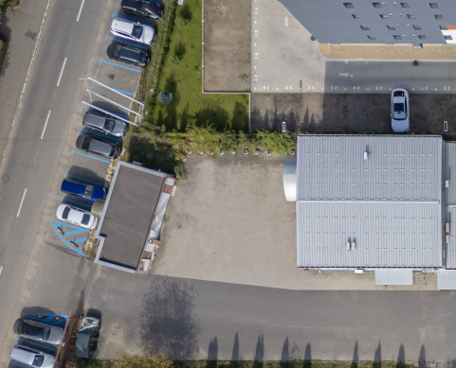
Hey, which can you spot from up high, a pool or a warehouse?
warehouse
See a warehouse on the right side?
Yes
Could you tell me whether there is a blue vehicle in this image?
Yes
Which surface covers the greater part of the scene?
paved ground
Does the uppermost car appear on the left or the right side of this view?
left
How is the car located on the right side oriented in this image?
from top to bottom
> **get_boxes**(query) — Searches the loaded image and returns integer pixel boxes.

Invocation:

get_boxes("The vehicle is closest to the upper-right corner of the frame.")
[389,88,410,132]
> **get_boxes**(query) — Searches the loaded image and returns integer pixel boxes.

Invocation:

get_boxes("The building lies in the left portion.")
[95,161,179,274]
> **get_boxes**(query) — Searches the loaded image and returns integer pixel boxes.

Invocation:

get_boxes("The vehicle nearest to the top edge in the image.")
[121,0,165,20]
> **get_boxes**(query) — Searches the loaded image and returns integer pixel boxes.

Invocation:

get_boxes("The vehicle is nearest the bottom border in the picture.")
[9,346,56,368]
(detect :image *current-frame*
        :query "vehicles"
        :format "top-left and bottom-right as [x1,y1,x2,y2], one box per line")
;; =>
[110,18,155,45]
[121,0,165,20]
[73,313,102,360]
[389,88,410,132]
[82,111,128,135]
[9,346,56,368]
[108,41,150,67]
[58,175,108,202]
[78,133,121,158]
[55,203,99,229]
[15,319,65,344]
